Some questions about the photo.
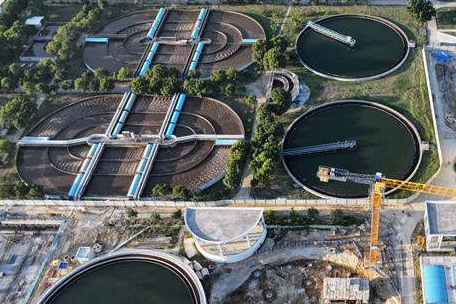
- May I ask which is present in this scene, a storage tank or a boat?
storage tank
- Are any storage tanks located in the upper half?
Yes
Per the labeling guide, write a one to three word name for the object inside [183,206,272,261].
building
